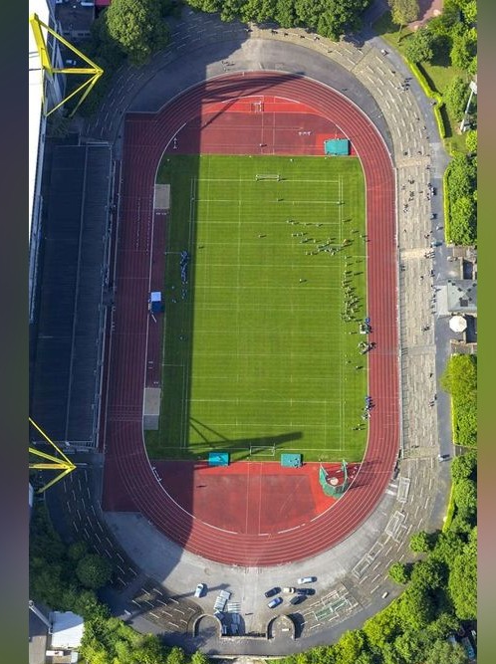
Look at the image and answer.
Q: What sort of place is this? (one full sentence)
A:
It's a sports ground.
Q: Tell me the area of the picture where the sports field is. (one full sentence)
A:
You can find the sports field in the center area of the picture.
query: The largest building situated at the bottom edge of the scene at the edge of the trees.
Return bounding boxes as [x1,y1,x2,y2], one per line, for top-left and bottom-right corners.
[50,610,83,651]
